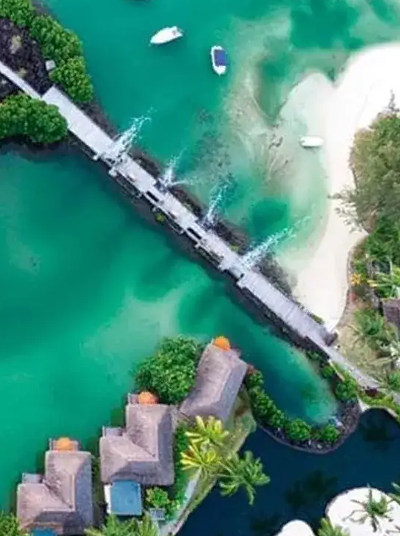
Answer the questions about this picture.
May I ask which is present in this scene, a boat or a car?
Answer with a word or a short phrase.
boat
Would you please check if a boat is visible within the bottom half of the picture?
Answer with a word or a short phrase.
No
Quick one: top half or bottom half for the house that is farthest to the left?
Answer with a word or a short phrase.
bottom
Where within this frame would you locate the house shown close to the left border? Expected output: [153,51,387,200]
[17,438,94,536]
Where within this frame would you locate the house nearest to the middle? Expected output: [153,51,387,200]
[178,336,247,425]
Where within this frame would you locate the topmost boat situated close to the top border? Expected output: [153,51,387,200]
[150,25,184,44]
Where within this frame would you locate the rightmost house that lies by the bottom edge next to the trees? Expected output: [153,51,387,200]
[99,392,175,515]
